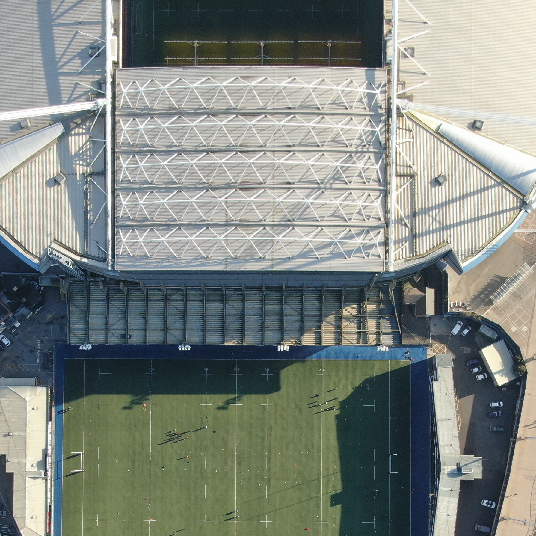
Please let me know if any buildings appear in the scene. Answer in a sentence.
Yes, you can see a building in this photo.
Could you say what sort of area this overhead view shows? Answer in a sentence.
The picture captures a sports ground.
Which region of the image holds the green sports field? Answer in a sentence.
The green sports field sits in the bottom section of the image.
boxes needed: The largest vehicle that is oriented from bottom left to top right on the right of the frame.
[451,321,463,336]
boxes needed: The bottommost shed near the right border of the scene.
[476,341,520,387]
